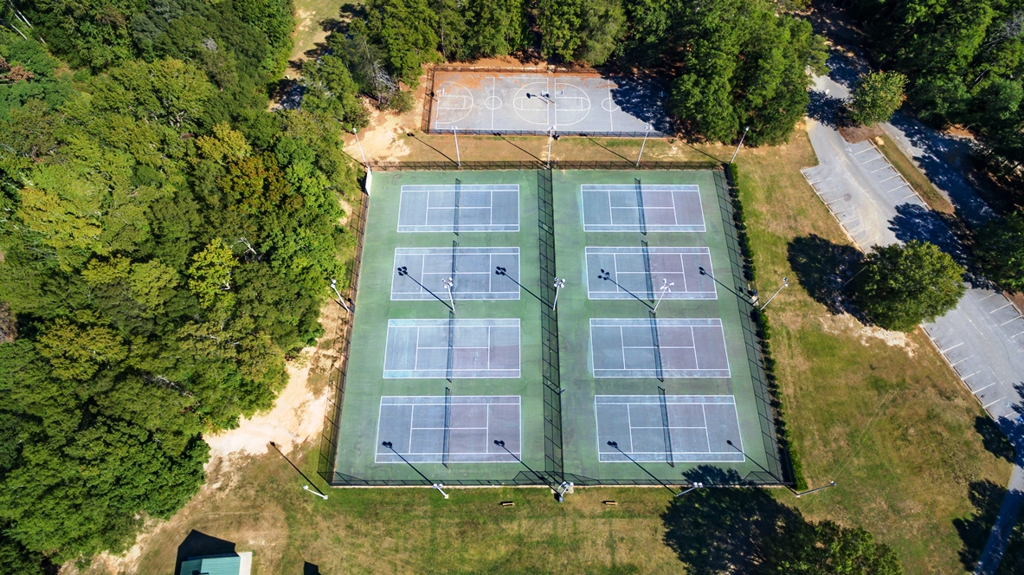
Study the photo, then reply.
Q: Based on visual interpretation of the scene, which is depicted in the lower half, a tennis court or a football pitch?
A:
tennis court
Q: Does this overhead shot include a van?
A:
No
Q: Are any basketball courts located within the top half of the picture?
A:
Yes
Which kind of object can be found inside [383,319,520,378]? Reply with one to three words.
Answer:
tennis court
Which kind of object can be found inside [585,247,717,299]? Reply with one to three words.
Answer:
tennis court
